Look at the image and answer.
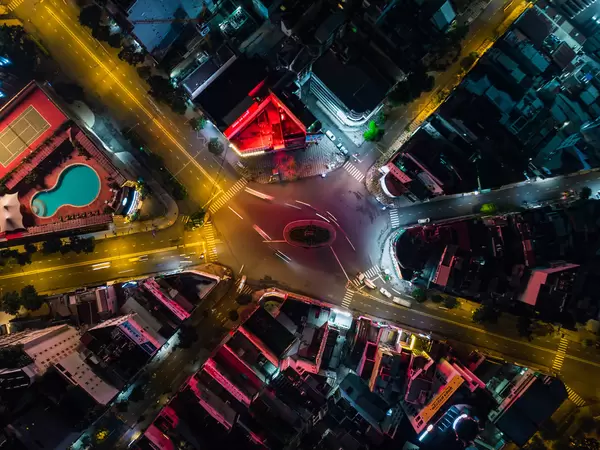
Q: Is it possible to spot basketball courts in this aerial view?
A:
No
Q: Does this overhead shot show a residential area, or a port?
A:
residential area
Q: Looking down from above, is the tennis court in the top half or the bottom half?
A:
top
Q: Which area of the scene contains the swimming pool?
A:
left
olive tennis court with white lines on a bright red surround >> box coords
[0,80,72,187]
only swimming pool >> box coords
[29,162,101,220]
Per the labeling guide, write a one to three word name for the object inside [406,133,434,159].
house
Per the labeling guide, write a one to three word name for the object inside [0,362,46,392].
building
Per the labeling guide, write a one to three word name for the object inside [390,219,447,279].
building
